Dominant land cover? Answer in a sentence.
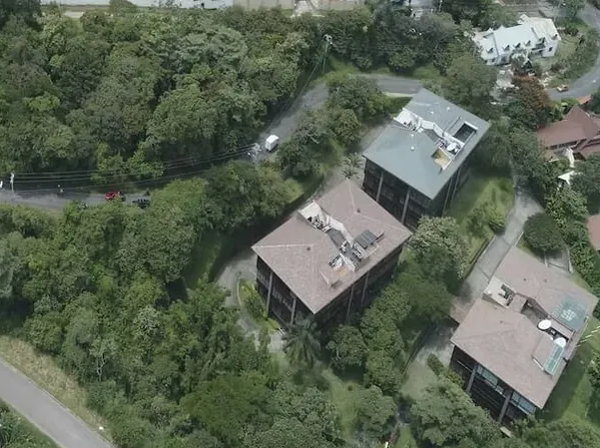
Most of the picture is covered by trees.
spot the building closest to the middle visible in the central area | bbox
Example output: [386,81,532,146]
[250,179,413,344]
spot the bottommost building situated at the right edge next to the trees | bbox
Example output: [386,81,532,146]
[442,245,599,439]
